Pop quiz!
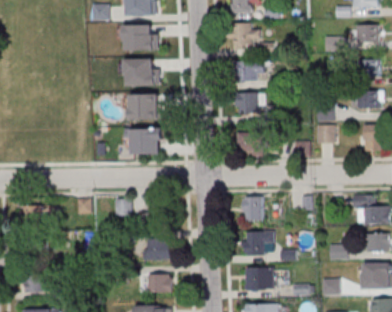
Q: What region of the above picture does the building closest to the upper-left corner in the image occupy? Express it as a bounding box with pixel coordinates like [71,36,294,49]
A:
[90,2,110,22]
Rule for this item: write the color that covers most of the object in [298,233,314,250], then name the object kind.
blue swimming pool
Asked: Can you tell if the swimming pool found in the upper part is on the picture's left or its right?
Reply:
left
